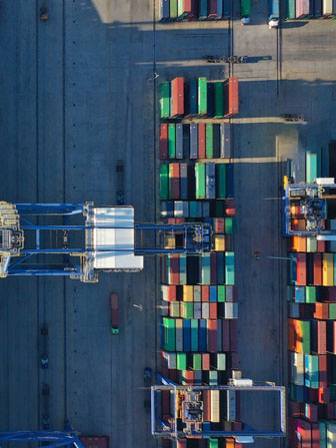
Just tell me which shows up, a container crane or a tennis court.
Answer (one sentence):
It is a container crane that can be seen here.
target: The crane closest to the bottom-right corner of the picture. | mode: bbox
[152,364,287,442]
